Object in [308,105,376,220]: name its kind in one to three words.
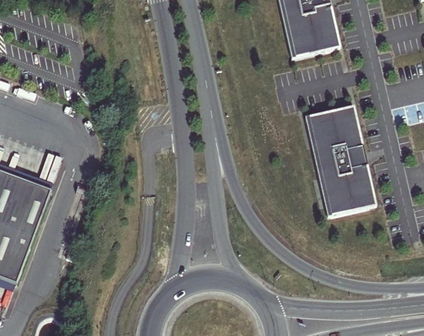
building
